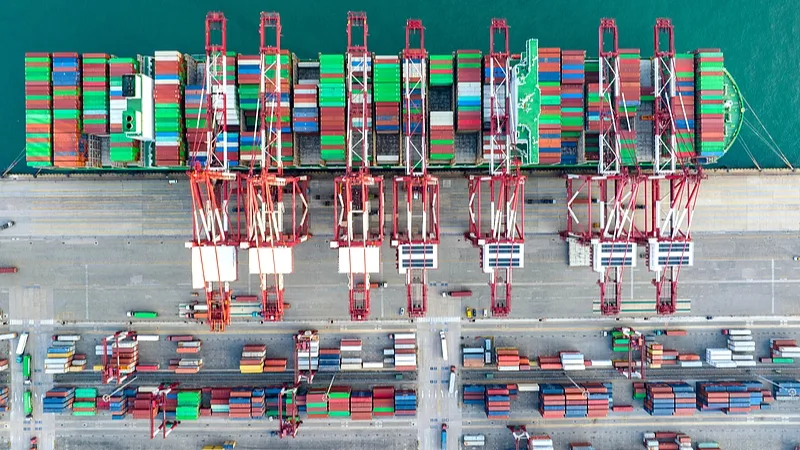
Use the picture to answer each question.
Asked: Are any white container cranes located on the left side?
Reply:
Yes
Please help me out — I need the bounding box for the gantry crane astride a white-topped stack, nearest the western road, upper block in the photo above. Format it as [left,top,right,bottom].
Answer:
[102,332,138,386]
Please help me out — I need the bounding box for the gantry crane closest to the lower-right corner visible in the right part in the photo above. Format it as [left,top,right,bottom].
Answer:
[612,330,646,384]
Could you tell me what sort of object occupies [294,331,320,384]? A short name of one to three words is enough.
container crane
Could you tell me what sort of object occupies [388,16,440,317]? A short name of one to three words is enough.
container crane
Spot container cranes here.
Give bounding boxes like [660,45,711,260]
[459,15,526,317]
[605,14,705,316]
[278,383,304,441]
[388,16,440,317]
[185,9,266,334]
[241,9,317,322]
[551,14,644,317]
[294,331,320,384]
[102,332,138,386]
[149,384,183,440]
[612,330,646,384]
[329,9,390,323]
